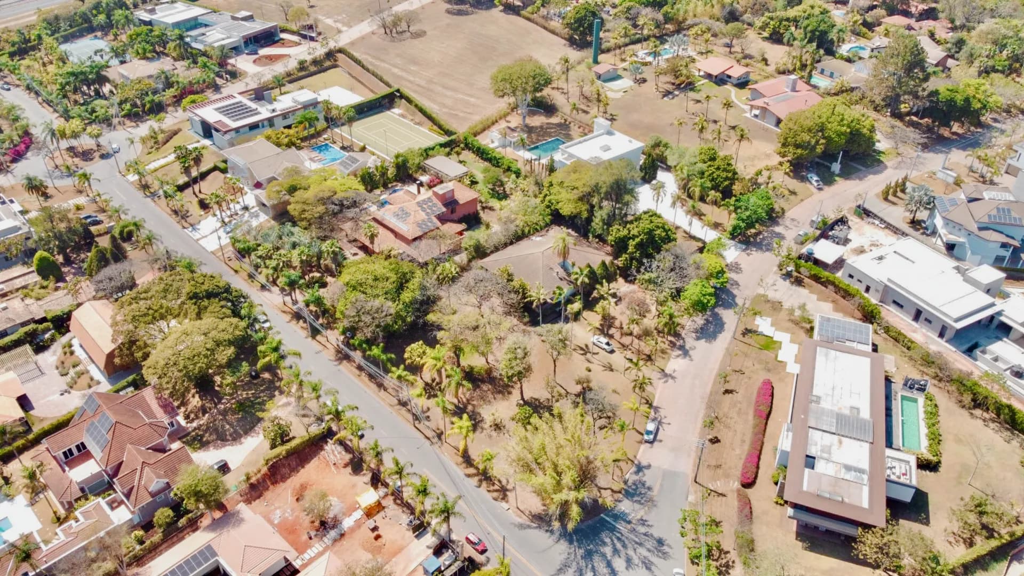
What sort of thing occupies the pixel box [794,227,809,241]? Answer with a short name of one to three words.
car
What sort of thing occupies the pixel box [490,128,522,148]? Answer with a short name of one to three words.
gazebo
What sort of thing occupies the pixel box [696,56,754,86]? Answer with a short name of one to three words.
house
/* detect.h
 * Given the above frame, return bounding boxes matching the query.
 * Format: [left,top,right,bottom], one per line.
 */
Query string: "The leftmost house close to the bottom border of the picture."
[0,386,195,576]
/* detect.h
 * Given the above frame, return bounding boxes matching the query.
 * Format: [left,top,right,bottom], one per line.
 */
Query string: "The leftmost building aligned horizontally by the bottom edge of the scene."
[128,502,299,576]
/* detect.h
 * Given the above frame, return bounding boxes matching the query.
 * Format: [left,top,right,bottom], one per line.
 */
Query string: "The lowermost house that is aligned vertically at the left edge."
[0,371,28,432]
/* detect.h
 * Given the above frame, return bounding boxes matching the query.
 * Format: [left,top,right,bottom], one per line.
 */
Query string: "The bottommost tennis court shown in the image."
[336,111,453,166]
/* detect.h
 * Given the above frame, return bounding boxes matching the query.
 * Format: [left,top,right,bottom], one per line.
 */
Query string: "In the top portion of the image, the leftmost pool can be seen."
[308,140,350,167]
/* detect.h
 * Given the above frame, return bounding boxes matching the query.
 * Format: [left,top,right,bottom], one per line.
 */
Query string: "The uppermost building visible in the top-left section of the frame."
[135,2,281,58]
